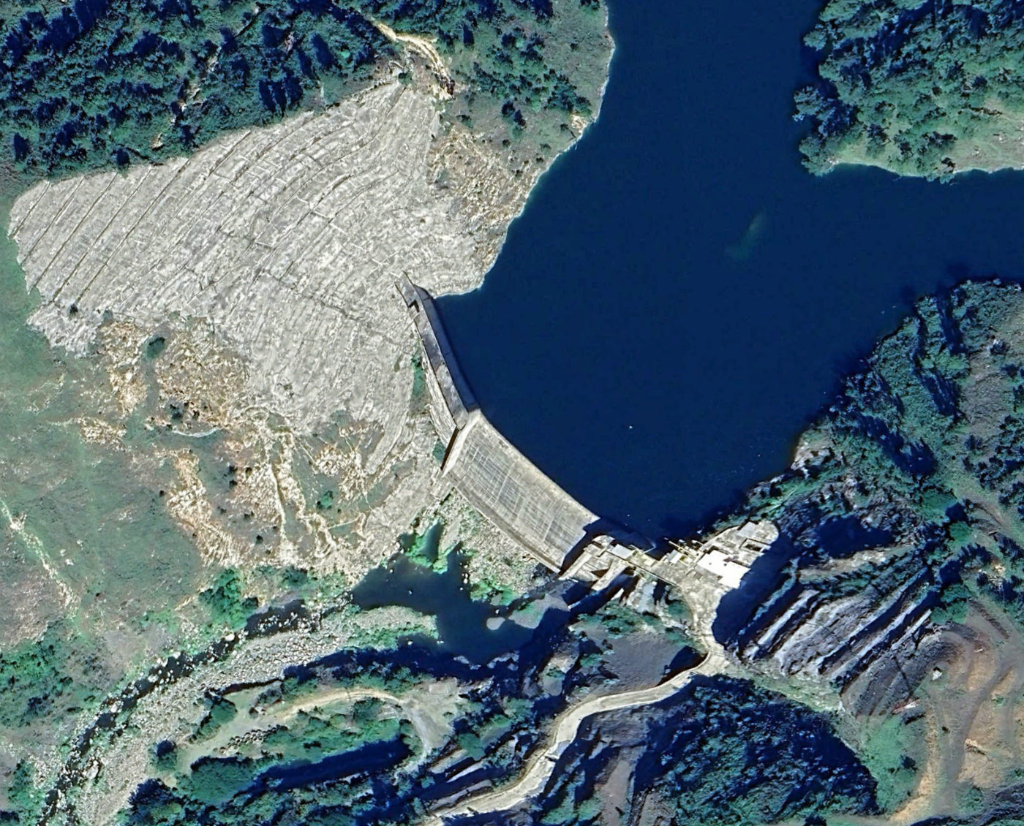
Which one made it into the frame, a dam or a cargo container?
dam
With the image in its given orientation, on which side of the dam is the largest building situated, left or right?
to the right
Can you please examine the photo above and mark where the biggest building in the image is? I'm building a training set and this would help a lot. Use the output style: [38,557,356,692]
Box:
[696,548,754,589]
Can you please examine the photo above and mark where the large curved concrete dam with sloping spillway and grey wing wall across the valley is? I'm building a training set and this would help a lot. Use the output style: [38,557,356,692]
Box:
[397,272,680,591]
